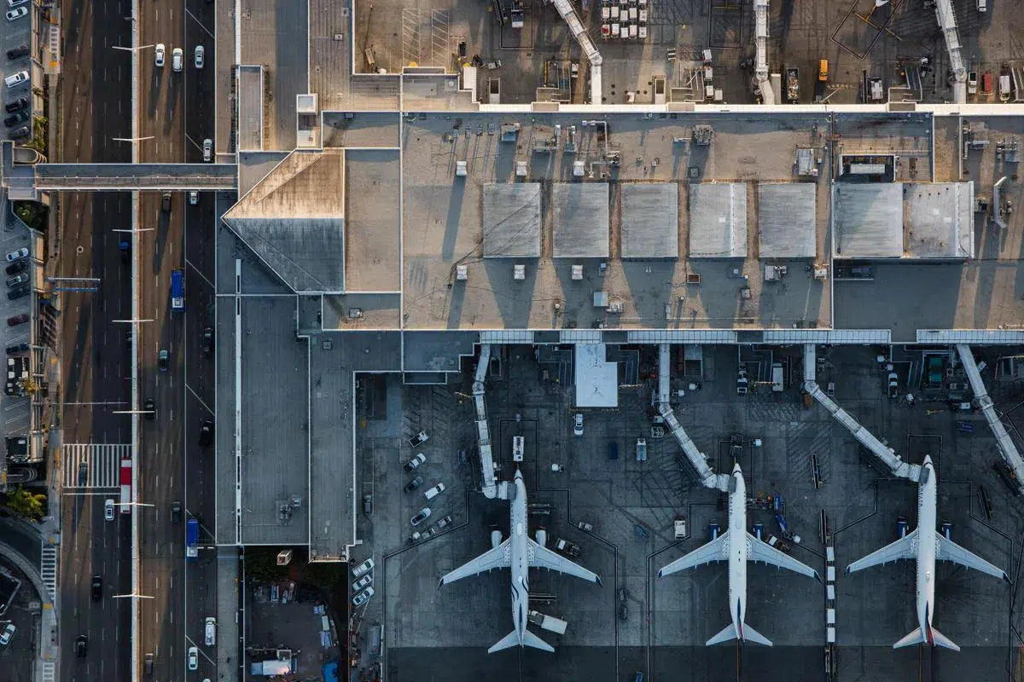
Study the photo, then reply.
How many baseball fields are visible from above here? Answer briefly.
0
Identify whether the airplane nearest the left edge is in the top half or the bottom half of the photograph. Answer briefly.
bottom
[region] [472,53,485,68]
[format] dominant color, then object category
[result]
black vehicle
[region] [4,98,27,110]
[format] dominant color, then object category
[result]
black vehicle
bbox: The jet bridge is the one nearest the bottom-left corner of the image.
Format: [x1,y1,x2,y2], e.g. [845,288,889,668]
[473,344,516,499]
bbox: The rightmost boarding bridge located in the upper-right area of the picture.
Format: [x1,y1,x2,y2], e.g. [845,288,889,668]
[926,0,968,103]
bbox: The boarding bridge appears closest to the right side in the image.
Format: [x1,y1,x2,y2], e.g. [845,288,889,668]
[955,345,1024,496]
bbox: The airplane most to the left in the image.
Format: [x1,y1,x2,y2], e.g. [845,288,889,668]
[438,470,602,656]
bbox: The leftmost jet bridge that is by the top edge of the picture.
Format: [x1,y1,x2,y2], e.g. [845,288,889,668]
[541,0,603,103]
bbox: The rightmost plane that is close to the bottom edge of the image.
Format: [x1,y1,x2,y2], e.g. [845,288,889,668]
[848,456,1013,656]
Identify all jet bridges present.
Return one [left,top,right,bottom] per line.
[748,0,773,103]
[656,345,737,493]
[955,345,1024,496]
[473,344,516,499]
[541,0,603,103]
[926,0,968,103]
[801,345,927,482]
